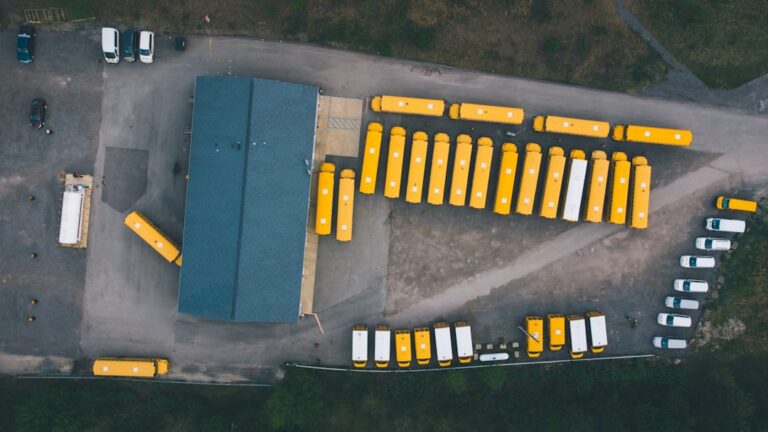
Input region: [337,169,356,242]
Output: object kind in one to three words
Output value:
vehicle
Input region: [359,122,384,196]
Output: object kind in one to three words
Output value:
bus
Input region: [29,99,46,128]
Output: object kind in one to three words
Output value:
car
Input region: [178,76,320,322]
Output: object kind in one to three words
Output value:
building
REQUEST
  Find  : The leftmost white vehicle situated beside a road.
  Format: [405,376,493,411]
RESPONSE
[104,28,122,64]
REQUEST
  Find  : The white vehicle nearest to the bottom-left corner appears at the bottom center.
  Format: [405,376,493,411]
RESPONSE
[352,326,368,368]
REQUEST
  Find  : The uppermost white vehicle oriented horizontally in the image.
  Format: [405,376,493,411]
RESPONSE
[704,218,746,232]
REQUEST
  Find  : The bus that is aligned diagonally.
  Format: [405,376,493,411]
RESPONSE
[125,210,182,268]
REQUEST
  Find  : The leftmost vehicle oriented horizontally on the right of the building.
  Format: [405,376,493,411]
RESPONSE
[370,96,445,118]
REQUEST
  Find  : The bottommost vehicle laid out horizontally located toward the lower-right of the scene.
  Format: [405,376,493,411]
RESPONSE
[652,335,686,350]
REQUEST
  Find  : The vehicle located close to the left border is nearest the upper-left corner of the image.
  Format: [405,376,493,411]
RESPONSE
[17,28,35,63]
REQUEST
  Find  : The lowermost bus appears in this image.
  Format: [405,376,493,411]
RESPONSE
[92,356,171,377]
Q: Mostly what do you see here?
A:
paved ground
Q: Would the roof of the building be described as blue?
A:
Yes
